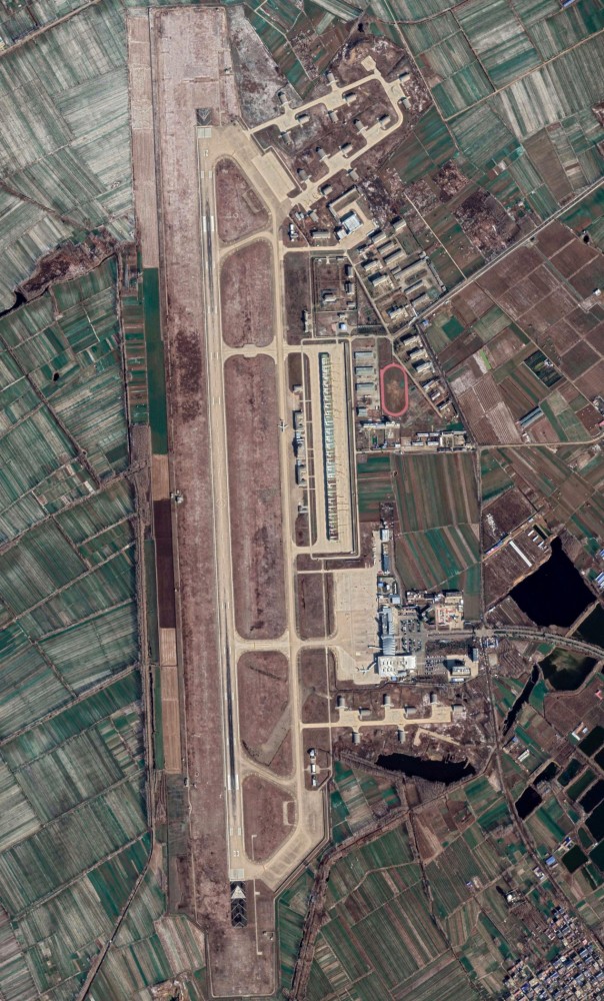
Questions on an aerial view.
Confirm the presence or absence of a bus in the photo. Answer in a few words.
No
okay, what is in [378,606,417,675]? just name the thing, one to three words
building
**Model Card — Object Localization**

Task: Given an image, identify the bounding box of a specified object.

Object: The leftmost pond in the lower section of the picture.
[377,753,476,785]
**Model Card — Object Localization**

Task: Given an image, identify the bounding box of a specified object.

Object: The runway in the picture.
[196,127,245,881]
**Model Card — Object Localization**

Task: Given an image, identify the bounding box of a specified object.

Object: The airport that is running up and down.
[150,7,453,997]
